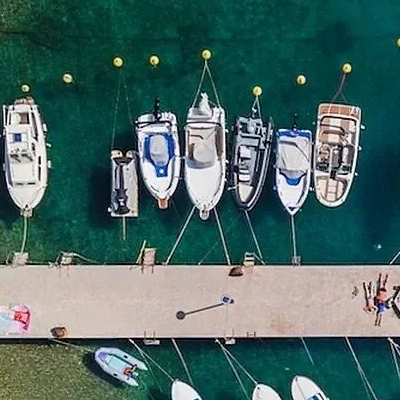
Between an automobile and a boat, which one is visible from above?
boat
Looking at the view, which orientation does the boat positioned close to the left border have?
vertically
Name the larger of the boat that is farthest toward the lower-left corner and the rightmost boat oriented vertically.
the rightmost boat oriented vertically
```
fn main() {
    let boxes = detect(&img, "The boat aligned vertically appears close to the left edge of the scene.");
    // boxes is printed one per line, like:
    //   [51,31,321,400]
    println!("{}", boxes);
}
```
[1,97,52,220]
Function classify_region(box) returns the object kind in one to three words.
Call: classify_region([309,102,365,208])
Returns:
boat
